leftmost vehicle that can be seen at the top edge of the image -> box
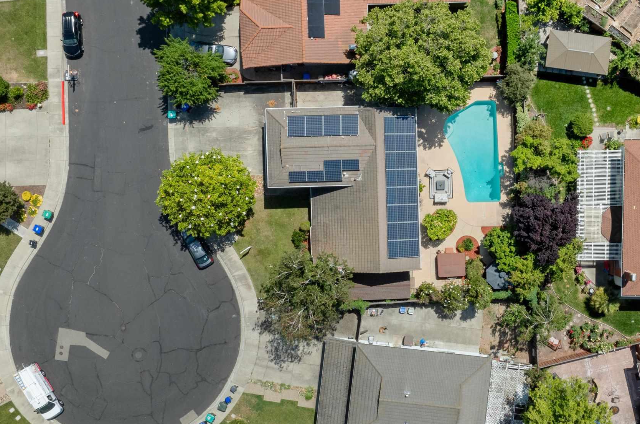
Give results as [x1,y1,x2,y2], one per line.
[61,10,89,61]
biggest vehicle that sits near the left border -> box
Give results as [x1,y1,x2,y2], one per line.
[15,361,68,423]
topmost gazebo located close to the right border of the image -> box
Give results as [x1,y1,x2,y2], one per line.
[544,29,612,76]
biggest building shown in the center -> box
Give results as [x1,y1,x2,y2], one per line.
[265,106,421,301]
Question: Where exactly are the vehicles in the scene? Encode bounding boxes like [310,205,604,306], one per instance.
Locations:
[177,228,216,273]
[197,41,242,67]
[61,10,89,61]
[15,361,68,423]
